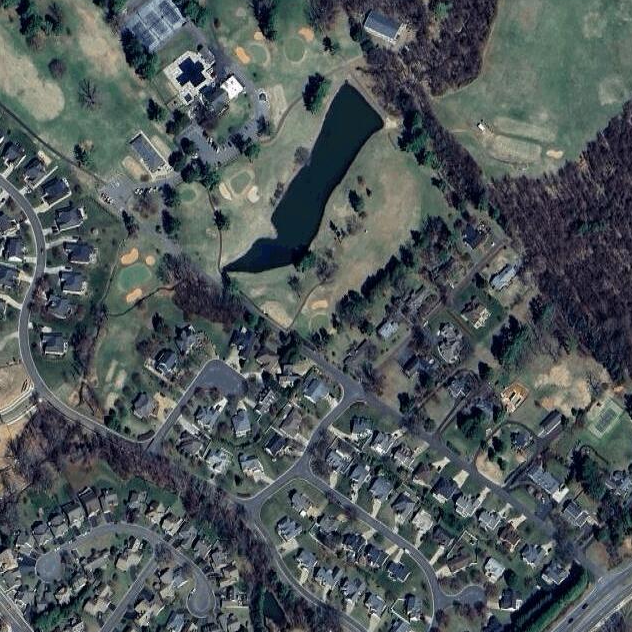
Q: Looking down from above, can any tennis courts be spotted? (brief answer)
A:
Yes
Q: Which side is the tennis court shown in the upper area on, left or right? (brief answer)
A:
left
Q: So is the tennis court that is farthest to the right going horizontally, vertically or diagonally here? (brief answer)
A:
diagonally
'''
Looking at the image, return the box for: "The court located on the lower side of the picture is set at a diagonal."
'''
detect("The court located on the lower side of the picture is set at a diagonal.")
[589,397,624,438]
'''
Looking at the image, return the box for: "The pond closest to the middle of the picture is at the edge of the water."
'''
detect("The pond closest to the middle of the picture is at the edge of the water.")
[224,81,382,273]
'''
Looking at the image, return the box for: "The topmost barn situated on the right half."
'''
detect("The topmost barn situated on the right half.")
[362,12,401,46]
